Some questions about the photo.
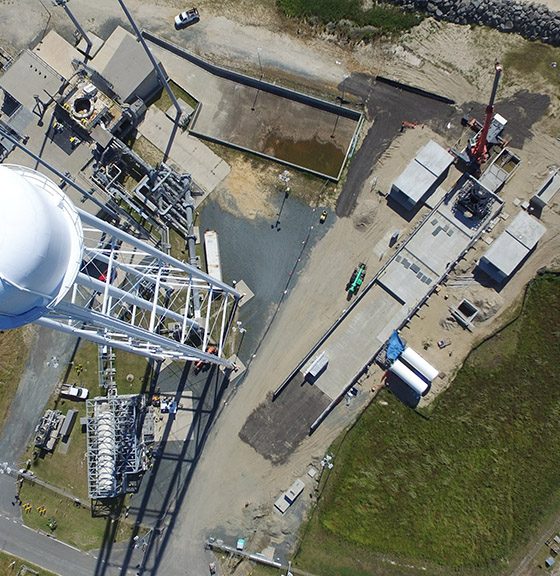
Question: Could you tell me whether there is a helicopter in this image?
No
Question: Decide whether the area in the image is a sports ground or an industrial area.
industrial area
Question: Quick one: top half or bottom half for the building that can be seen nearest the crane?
top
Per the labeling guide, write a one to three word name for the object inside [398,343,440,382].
storage tank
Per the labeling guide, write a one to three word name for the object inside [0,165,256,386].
water tower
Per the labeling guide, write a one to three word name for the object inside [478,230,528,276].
building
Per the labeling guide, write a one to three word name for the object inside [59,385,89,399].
vehicle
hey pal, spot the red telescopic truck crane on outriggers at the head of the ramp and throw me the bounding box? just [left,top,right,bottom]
[454,64,512,170]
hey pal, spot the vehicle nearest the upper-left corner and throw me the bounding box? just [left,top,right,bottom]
[173,5,201,24]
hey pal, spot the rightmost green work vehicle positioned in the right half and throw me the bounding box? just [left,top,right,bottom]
[347,259,367,292]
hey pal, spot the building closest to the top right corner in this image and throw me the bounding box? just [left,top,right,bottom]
[415,140,454,179]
